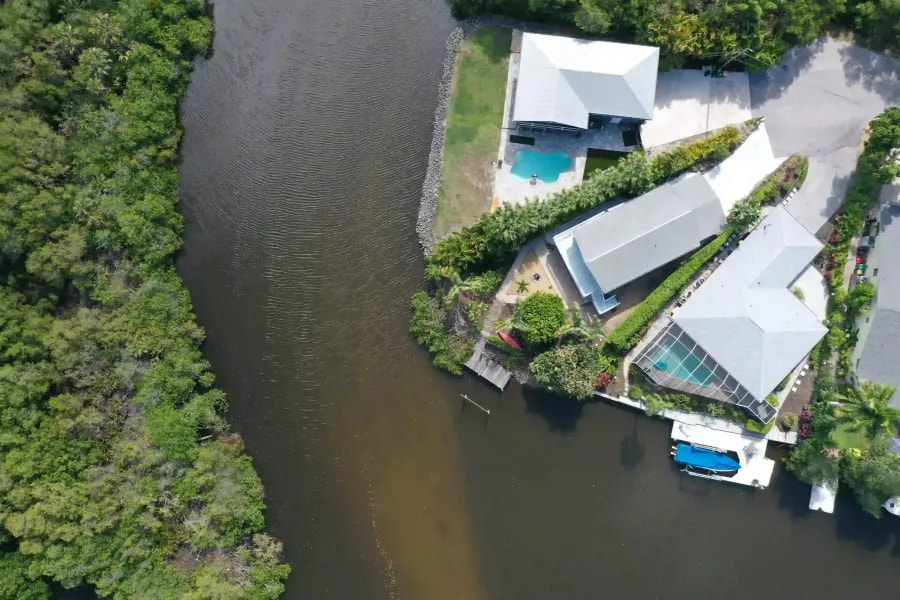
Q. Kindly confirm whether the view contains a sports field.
No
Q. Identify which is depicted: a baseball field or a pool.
pool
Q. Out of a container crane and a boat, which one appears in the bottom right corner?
boat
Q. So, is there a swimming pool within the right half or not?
Yes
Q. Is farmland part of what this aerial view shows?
No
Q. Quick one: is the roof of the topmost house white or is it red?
white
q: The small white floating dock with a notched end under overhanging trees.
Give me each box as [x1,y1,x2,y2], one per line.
[808,461,839,513]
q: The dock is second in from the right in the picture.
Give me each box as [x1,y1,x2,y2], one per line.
[668,421,775,489]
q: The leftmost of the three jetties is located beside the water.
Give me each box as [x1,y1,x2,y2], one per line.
[467,330,512,391]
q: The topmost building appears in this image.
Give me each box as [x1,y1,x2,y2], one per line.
[513,33,660,138]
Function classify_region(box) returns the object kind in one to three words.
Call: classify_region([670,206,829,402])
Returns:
house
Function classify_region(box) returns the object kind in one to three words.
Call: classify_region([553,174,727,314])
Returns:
house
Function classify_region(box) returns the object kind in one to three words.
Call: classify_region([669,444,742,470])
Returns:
boat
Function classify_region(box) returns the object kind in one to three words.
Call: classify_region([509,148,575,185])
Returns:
swimming pool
